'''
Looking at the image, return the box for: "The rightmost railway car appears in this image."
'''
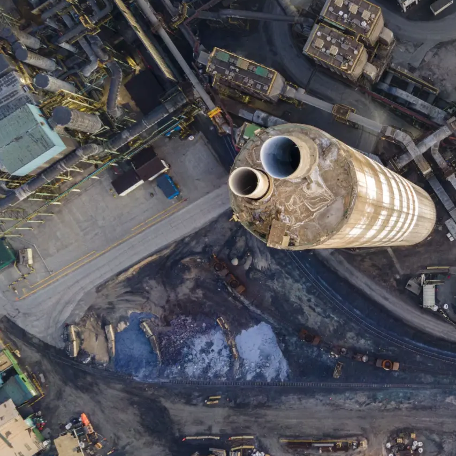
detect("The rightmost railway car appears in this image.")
[375,359,402,372]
